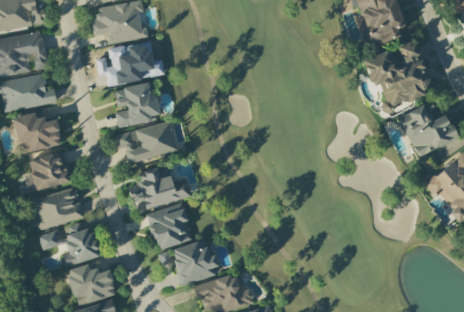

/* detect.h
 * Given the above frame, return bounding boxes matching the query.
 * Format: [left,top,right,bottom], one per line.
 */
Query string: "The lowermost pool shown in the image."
[244,276,266,301]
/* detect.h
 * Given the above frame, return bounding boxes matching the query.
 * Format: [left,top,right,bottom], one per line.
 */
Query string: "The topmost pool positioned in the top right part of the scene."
[340,11,364,43]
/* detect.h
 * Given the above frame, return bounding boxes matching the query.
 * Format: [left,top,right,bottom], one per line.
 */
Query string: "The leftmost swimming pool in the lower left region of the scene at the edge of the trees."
[42,244,68,271]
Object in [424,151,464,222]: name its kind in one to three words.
house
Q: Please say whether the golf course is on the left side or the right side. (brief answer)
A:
right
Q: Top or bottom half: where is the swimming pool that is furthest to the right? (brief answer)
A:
bottom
